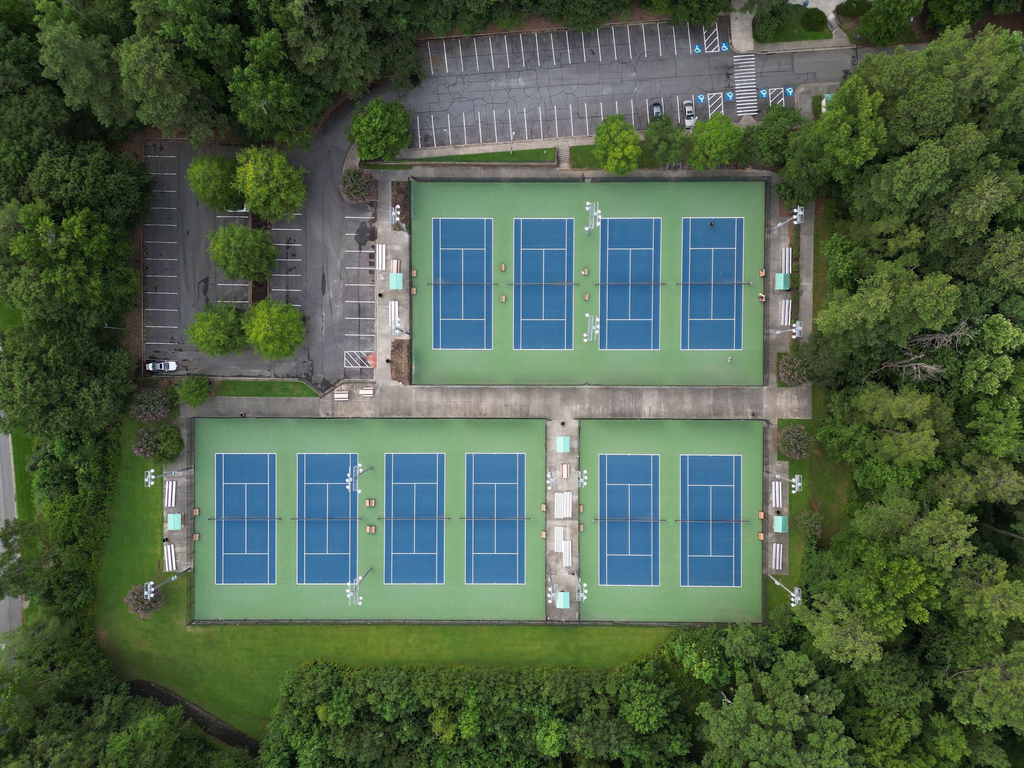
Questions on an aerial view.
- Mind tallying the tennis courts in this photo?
10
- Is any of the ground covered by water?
No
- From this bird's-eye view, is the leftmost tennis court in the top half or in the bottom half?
bottom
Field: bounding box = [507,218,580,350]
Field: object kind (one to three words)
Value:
tennis court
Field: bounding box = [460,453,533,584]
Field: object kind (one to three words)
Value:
tennis court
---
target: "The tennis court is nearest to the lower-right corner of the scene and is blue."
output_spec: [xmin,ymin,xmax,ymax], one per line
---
[675,455,751,587]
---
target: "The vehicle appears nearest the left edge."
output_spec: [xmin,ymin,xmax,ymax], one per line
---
[149,360,178,372]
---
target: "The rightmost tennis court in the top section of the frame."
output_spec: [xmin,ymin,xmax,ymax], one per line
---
[677,217,754,350]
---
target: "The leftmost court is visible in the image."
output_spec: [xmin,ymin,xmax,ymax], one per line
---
[205,453,281,584]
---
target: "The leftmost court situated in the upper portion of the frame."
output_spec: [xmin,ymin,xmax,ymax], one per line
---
[426,218,498,350]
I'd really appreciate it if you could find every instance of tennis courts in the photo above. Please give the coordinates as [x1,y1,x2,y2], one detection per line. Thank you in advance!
[507,218,580,350]
[675,455,751,587]
[289,453,363,584]
[426,218,498,350]
[460,453,533,584]
[594,218,668,350]
[592,454,667,586]
[377,453,451,584]
[205,453,281,584]
[677,217,754,350]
